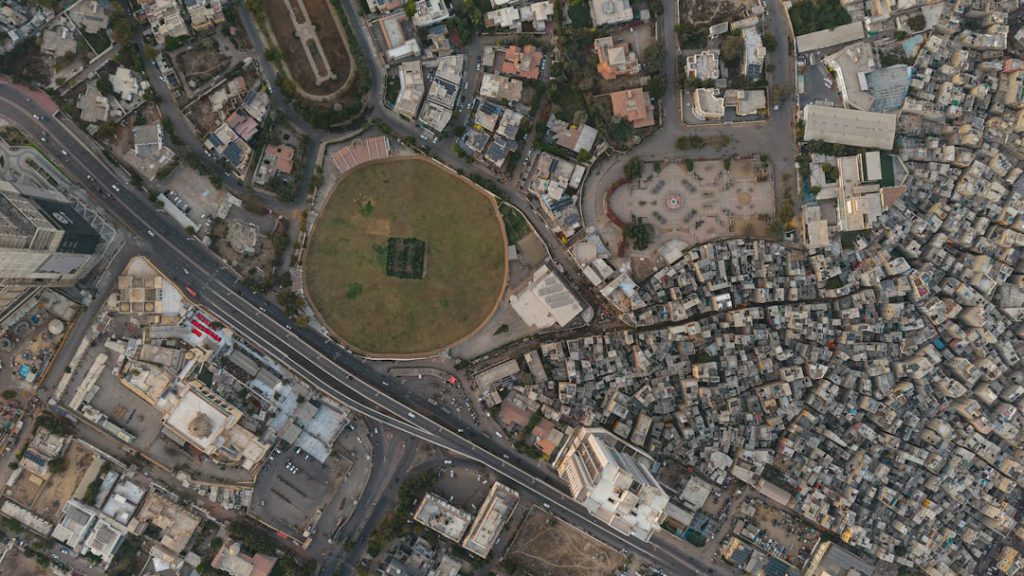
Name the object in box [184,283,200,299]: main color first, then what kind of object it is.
red vehicle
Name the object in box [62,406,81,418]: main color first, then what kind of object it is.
gray vehicle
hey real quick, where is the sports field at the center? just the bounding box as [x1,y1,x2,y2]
[304,156,507,358]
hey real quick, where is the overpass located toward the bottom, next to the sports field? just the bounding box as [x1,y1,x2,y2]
[202,276,707,576]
